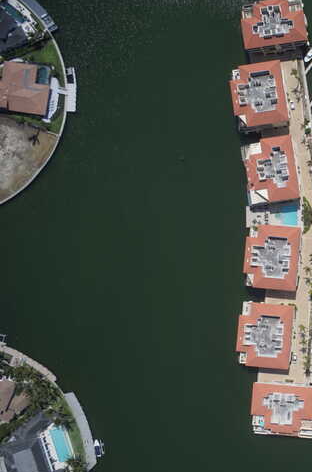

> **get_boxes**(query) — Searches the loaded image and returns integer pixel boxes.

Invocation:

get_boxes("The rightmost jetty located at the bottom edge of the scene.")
[65,391,97,470]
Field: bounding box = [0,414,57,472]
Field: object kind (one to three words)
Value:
house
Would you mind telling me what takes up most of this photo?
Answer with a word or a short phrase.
water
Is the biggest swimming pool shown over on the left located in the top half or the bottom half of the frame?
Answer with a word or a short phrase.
bottom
